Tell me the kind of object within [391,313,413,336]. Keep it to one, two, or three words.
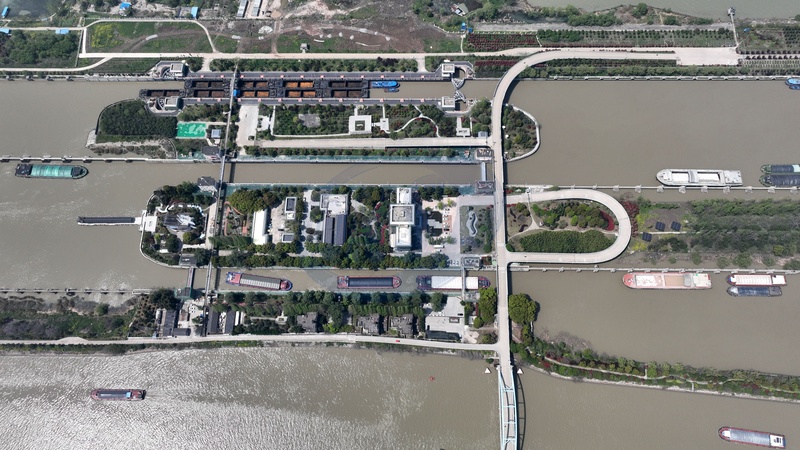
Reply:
house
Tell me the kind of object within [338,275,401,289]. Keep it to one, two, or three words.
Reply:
ship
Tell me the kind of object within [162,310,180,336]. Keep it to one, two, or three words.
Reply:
building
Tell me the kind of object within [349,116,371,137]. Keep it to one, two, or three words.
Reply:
building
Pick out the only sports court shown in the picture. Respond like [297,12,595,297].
[175,121,208,138]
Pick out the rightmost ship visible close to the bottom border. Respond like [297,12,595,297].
[718,426,786,448]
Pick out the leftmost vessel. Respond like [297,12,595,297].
[13,164,89,179]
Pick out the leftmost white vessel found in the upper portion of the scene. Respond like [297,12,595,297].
[656,170,744,186]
